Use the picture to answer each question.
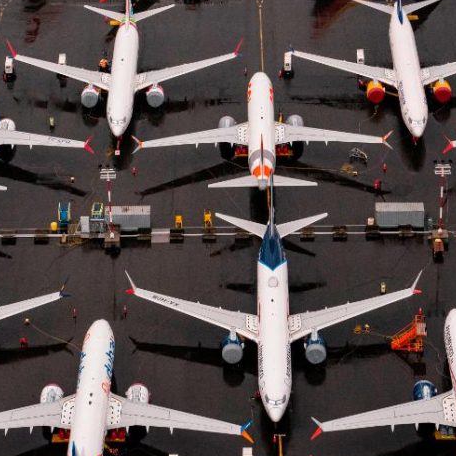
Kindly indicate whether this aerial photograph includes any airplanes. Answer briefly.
Yes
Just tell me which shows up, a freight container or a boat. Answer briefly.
freight container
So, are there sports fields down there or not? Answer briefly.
No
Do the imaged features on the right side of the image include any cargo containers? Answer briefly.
Yes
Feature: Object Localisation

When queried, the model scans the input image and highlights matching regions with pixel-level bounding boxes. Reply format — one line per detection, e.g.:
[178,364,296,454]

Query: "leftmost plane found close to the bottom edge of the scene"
[0,319,252,456]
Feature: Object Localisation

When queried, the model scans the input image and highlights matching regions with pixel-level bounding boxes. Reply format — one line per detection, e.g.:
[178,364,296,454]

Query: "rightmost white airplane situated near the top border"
[285,0,456,137]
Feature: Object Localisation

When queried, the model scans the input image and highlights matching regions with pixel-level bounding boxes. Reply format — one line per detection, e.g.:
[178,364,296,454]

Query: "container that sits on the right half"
[375,200,426,227]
